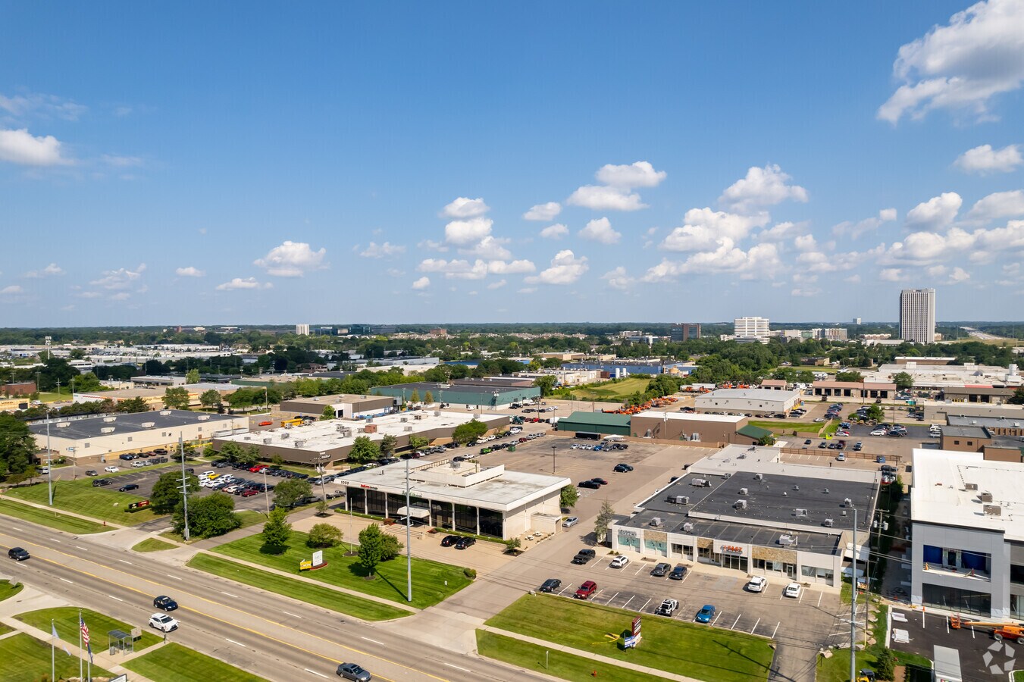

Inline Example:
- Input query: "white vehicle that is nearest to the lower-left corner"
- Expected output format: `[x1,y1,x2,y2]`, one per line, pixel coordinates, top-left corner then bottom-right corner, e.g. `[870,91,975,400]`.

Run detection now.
[149,611,178,632]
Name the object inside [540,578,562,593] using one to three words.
car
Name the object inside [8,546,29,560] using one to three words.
car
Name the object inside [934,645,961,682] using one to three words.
trailer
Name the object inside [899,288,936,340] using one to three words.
building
